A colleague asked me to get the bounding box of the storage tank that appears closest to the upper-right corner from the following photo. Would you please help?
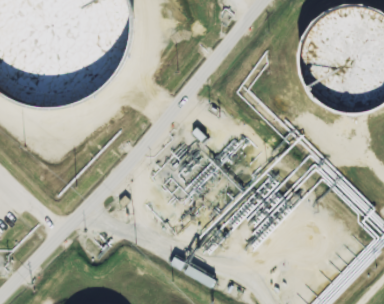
[296,4,384,116]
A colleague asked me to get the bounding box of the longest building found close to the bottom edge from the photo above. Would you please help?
[184,265,218,291]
